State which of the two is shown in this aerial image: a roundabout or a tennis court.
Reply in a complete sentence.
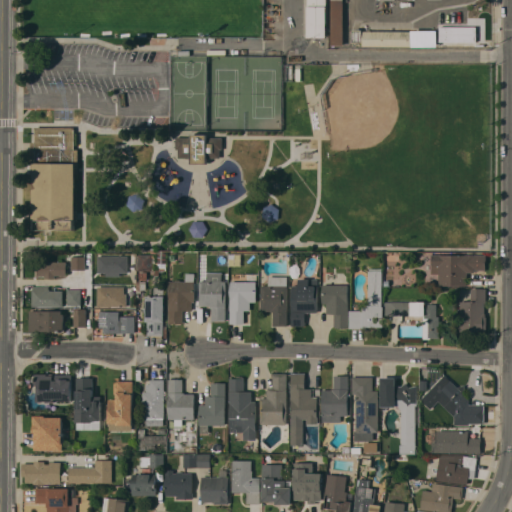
The image shows a tennis court.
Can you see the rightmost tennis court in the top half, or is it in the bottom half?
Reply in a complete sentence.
It is in the top half that the rightmost tennis court appears.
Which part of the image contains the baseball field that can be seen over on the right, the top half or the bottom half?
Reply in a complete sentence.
The baseball field that can be seen over on the right sits in the top half of the picture.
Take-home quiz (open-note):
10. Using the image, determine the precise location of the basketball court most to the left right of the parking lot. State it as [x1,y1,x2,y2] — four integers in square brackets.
[172,56,208,130]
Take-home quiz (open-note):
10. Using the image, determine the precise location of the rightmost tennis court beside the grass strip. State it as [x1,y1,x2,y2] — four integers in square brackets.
[247,57,282,130]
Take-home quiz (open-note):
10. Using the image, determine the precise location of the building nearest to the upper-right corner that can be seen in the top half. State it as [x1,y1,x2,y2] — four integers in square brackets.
[438,26,476,46]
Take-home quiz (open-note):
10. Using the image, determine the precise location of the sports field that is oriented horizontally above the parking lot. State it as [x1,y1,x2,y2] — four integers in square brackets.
[24,0,262,46]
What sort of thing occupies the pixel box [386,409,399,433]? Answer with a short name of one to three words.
swimming pool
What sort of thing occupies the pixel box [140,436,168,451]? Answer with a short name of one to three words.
building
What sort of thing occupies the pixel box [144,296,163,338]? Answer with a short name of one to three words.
house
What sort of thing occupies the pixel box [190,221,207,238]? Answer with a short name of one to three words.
gazebo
